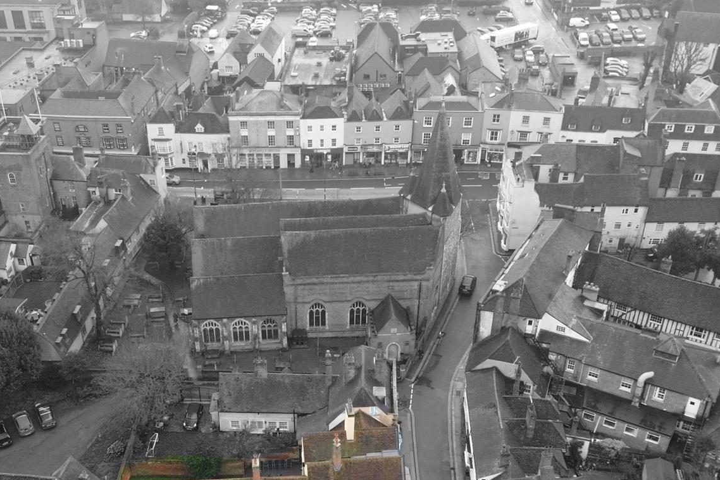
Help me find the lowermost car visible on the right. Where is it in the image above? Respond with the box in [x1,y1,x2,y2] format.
[455,274,478,296]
